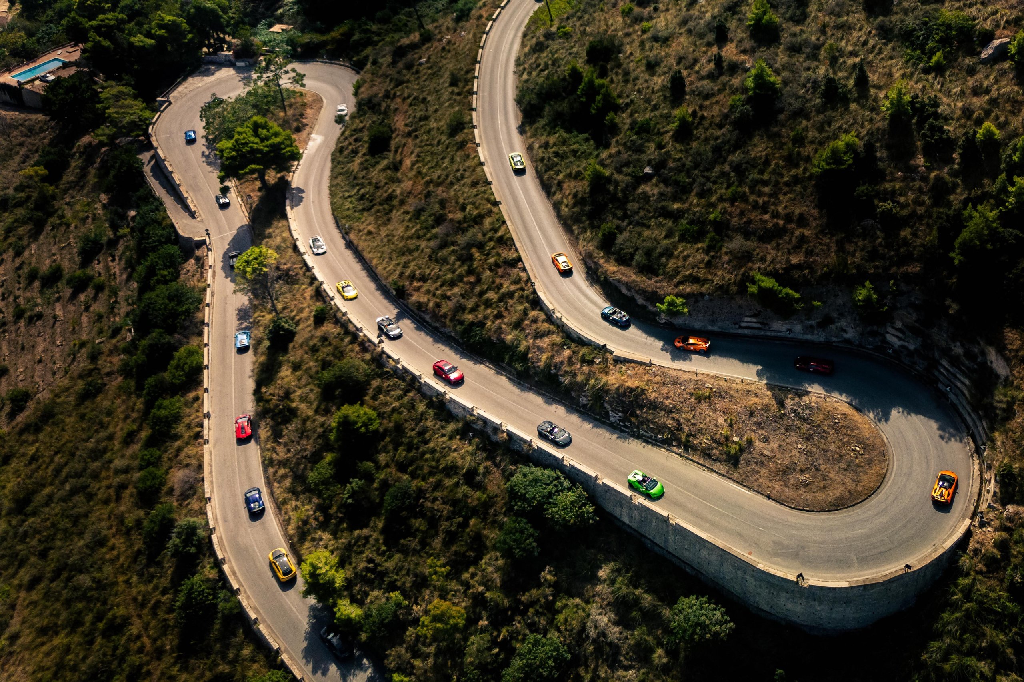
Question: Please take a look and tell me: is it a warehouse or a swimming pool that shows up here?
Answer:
swimming pool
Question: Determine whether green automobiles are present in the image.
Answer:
Yes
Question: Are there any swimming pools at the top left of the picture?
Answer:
Yes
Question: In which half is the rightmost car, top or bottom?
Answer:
bottom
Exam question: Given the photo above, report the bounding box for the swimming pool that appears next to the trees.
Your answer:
[6,56,72,82]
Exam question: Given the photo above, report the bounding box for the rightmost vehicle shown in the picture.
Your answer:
[930,472,958,506]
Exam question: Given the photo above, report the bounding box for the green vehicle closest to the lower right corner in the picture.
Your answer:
[625,469,667,499]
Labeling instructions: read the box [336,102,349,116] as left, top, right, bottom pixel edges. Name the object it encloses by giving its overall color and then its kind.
white vehicle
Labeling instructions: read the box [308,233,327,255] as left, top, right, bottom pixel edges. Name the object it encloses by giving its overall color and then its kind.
white car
